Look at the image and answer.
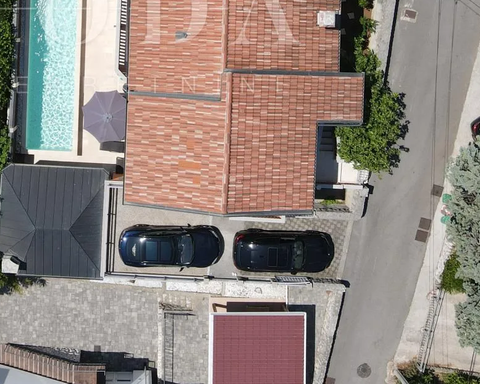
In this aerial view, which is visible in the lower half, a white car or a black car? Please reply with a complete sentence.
The feature located in the lower half is a black car.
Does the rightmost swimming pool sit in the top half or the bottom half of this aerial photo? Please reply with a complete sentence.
Seen from above, the rightmost swimming pool lies in the top half of the view.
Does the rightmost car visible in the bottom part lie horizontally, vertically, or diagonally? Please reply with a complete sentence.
In this picture, the rightmost car visible in the bottom part is oriented horizontally.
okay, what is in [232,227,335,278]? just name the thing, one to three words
car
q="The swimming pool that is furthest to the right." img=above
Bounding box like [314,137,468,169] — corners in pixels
[26,0,82,157]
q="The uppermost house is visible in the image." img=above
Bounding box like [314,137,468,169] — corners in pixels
[117,0,366,217]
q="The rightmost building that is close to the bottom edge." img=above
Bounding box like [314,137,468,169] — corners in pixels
[209,298,307,384]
